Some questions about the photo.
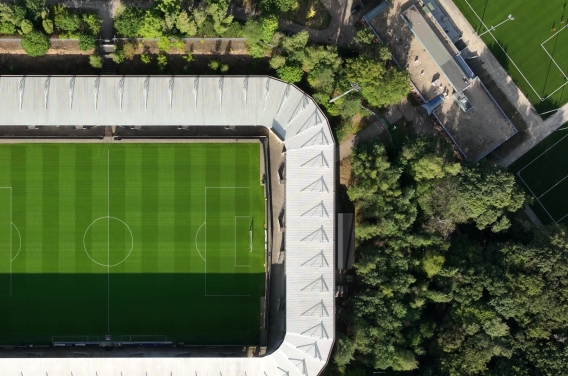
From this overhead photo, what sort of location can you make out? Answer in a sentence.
The area seen from above is a sports ground.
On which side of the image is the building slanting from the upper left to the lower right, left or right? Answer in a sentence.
The building slanting from the upper left to the lower right is on the right side of the image.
